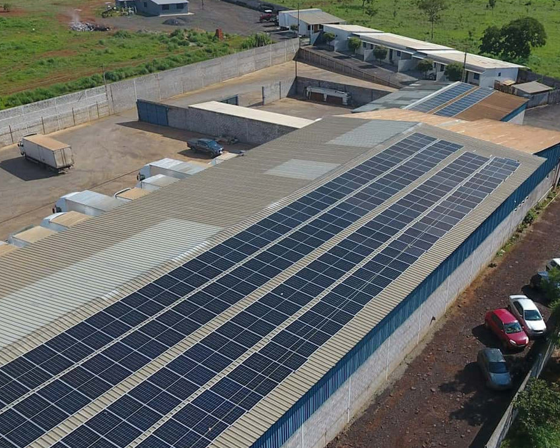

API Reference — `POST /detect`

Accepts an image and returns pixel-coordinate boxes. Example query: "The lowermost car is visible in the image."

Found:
[475,346,518,394]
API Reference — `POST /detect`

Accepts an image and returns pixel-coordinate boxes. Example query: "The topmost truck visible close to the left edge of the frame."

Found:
[14,133,79,174]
